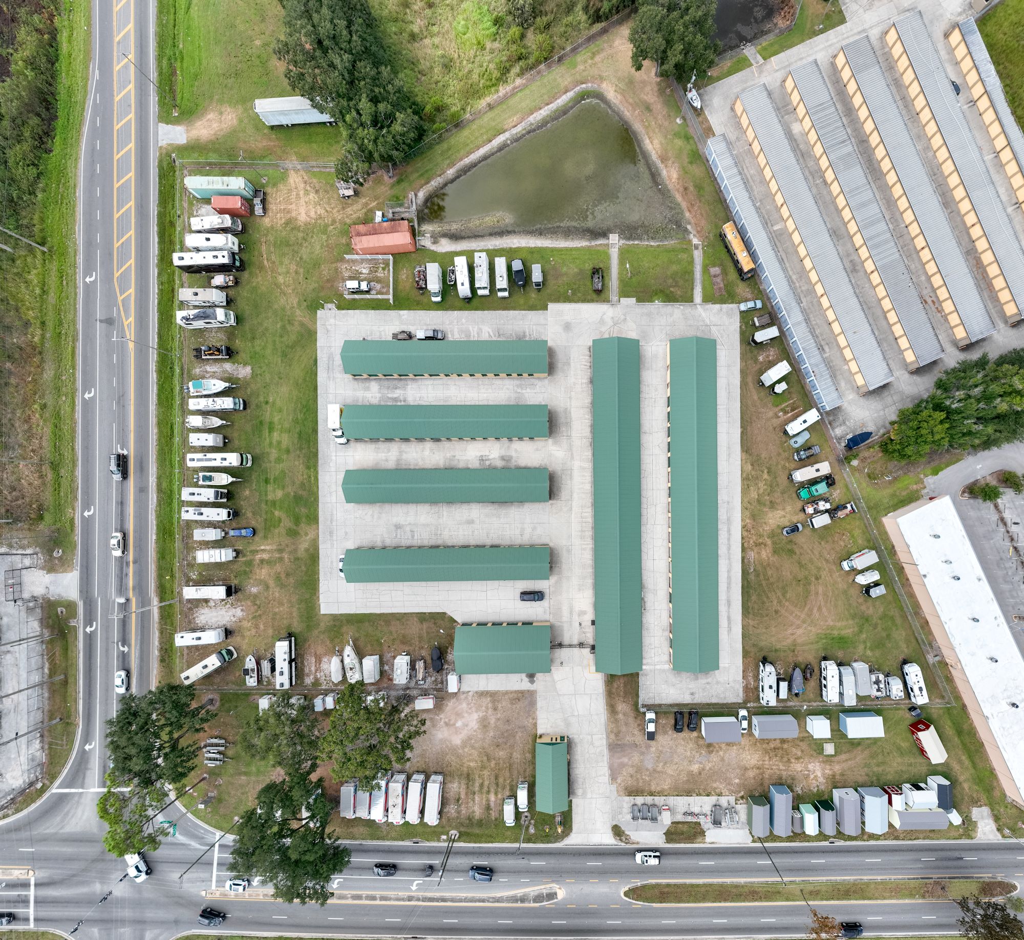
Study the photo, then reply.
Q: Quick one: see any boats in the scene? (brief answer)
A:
Yes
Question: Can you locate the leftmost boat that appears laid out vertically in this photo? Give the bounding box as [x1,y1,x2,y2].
[244,657,259,690]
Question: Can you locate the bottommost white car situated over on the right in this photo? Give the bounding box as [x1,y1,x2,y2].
[635,850,660,866]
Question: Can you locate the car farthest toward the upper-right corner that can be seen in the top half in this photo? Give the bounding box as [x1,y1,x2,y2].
[950,78,964,98]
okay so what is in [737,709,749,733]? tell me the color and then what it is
white vehicle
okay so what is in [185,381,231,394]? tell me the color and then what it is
white boat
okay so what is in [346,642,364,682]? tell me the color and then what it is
white boat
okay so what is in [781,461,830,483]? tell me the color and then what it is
white trailer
